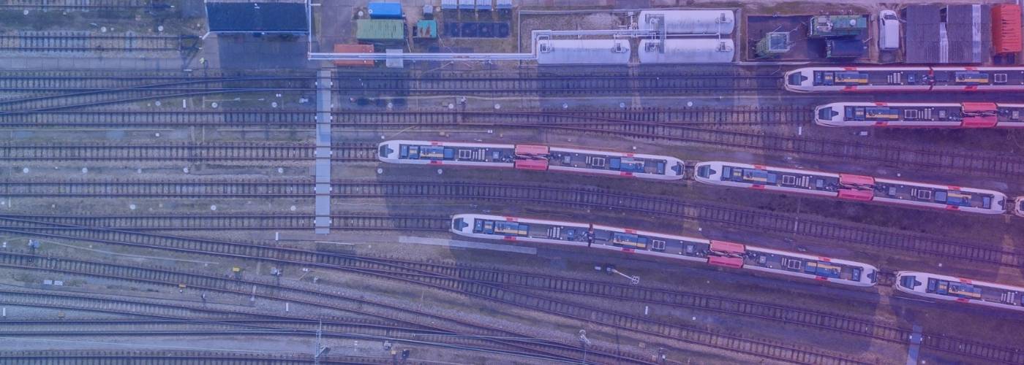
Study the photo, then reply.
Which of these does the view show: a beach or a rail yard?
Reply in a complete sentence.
The area seen from above is a rail yard.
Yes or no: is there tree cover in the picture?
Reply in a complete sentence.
No, the picture contains no tree cover.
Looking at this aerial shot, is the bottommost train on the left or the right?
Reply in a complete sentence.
You can find the bottommost train on the right side of the picture.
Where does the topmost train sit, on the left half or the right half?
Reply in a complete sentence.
It is on the right.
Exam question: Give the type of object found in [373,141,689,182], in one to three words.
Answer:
train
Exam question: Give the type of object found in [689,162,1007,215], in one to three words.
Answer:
train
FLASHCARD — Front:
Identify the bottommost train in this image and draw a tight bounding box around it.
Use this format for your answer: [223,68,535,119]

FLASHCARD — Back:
[892,271,1024,313]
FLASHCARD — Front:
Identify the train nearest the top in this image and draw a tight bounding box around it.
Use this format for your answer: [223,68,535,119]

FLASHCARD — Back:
[778,67,1024,94]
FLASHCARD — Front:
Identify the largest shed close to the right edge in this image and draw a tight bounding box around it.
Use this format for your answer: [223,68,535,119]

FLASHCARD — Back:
[897,4,991,65]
